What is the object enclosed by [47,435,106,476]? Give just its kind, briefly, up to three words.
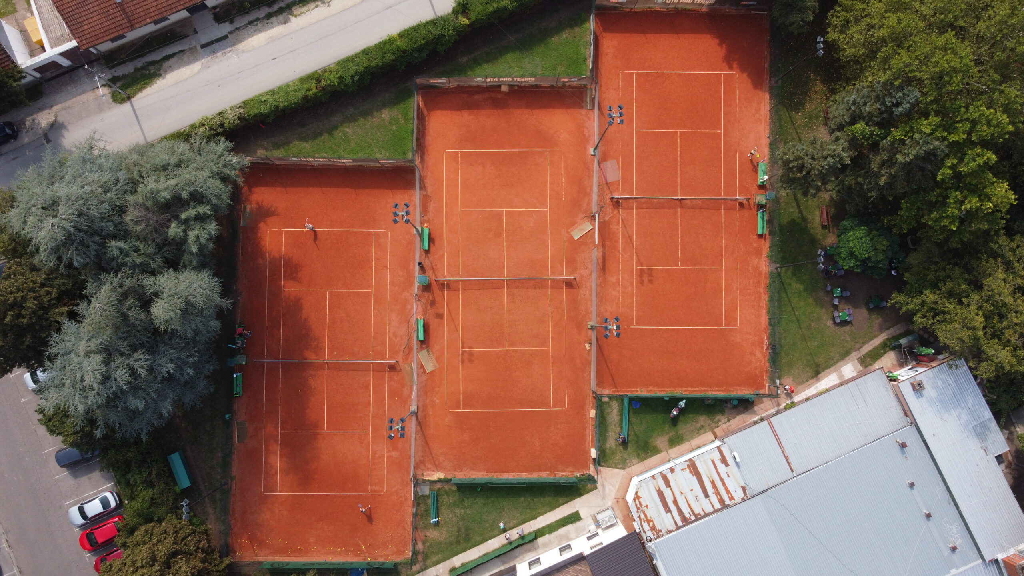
vehicle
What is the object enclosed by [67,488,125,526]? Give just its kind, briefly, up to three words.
car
